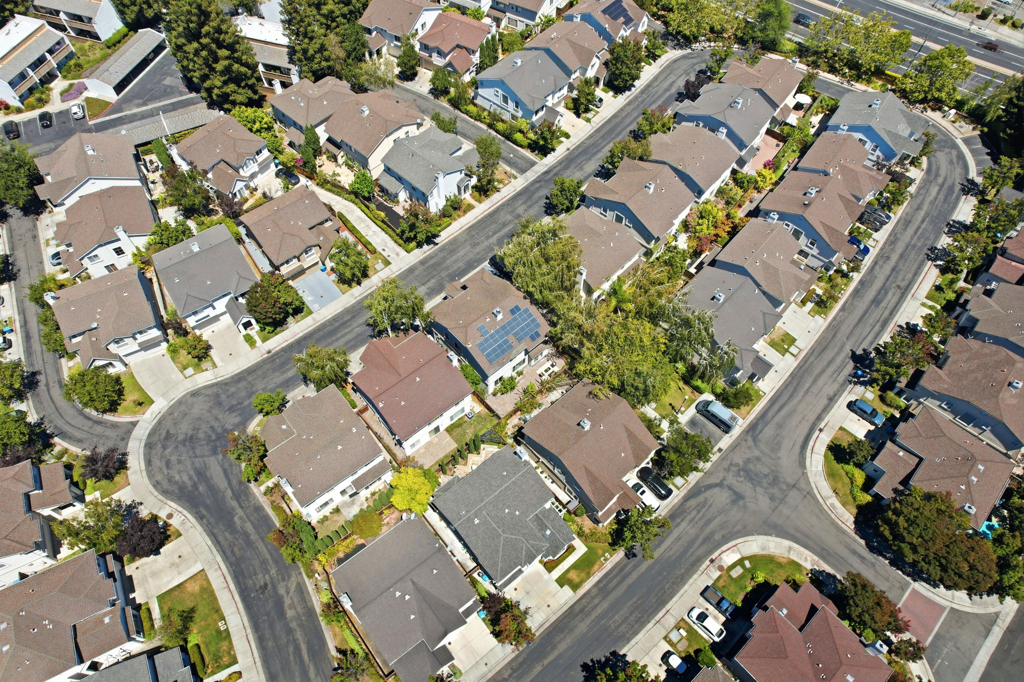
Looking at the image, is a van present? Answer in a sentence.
Yes, you can see a van in this photo.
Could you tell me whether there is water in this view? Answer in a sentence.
No, water can't be seen anywhere here.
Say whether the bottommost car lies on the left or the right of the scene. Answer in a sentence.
You can find the bottommost car on the right side of the picture.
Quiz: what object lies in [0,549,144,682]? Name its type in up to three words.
house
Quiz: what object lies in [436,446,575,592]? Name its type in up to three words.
house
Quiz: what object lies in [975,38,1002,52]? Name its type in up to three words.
car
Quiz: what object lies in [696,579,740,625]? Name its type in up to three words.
truck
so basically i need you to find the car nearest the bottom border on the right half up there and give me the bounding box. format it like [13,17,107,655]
[656,645,690,681]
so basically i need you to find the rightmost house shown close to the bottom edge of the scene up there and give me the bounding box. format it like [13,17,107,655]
[723,582,894,682]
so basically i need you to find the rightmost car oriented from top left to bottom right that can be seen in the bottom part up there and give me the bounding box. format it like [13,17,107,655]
[847,398,884,426]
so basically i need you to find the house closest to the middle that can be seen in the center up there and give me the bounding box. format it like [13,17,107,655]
[430,269,551,391]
